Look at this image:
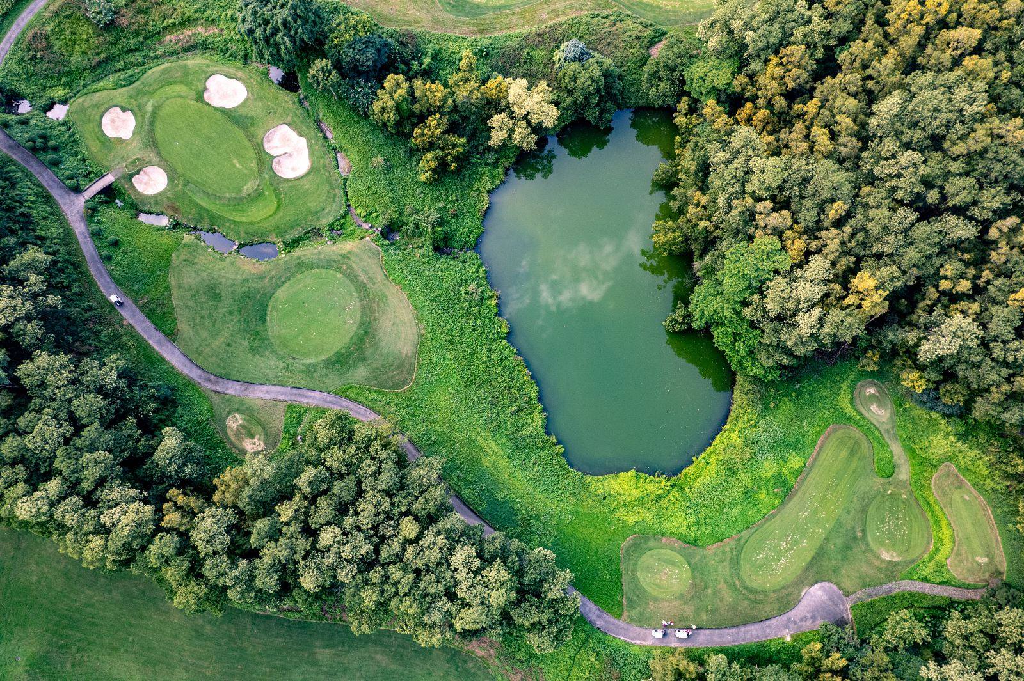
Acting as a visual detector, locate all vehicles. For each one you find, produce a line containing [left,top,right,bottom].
[110,295,122,305]
[674,630,687,638]
[651,630,663,638]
